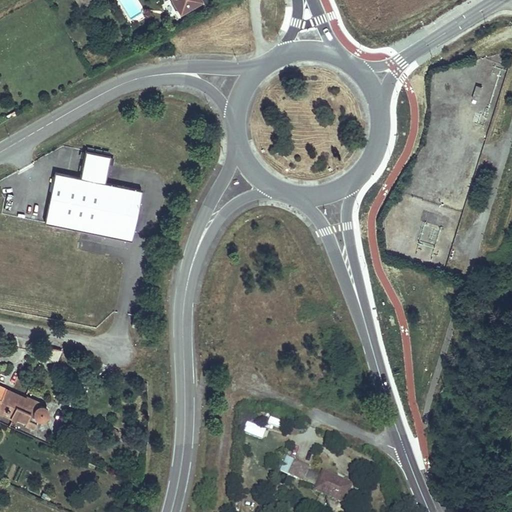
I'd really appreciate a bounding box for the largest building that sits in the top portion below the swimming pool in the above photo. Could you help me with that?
[45,153,142,242]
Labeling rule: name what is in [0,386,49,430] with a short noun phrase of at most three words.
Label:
house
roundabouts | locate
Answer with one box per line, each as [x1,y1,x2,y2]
[224,40,390,207]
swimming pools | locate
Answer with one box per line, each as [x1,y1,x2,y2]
[117,0,146,21]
